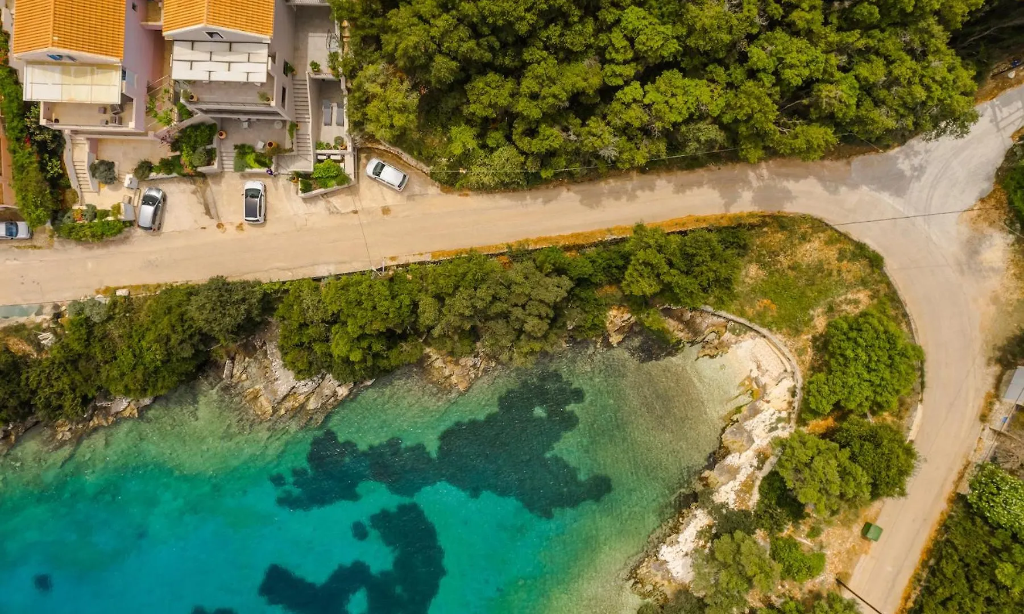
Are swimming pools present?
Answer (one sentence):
No, there is no swimming pool in the image.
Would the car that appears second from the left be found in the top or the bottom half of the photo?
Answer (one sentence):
The car that appears second from the left sits in the top half of the picture.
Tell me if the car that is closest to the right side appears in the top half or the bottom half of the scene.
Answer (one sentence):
The car that is closest to the right side sits in the top half of the picture.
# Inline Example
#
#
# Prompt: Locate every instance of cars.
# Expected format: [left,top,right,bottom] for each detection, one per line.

[367,160,409,191]
[138,188,166,231]
[243,181,267,224]
[0,218,33,241]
